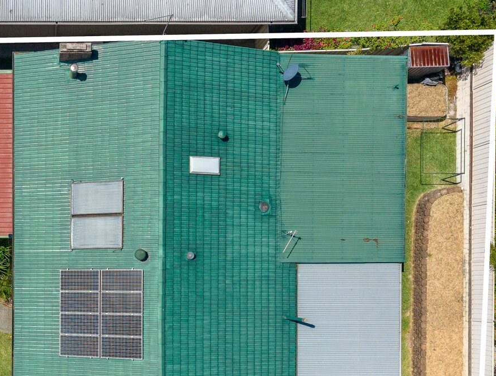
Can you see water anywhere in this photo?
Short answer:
No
